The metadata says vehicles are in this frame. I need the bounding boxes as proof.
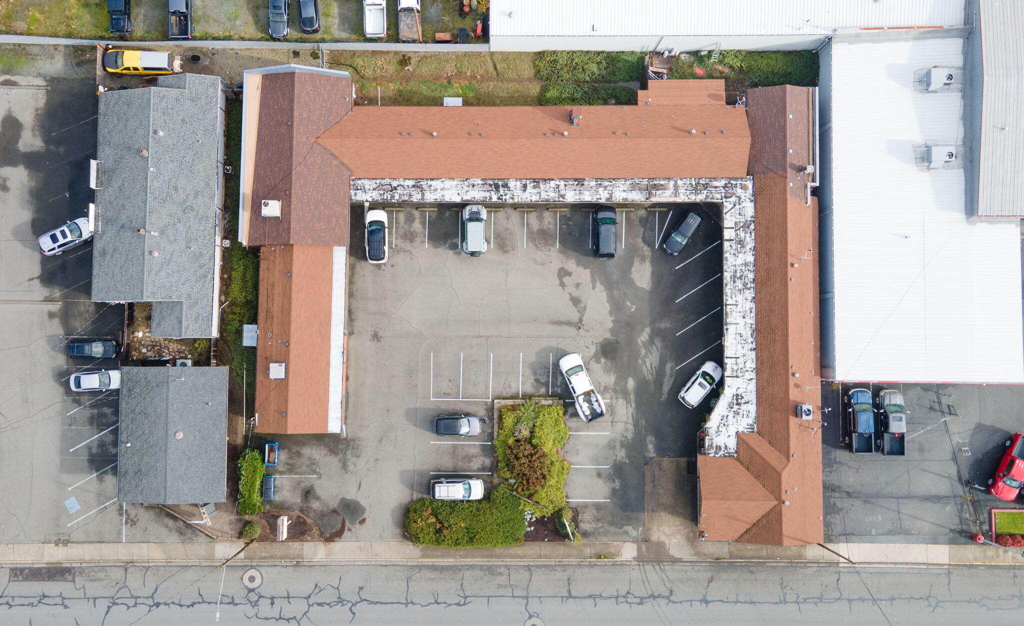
[106,46,177,77]
[679,359,722,412]
[362,210,390,265]
[429,476,484,503]
[69,367,120,394]
[462,206,488,258]
[592,205,619,262]
[875,388,909,458]
[69,337,122,363]
[985,428,1024,500]
[298,0,325,37]
[843,387,876,456]
[398,0,422,42]
[104,0,136,35]
[431,413,483,440]
[661,205,706,260]
[264,0,292,41]
[166,0,195,40]
[35,218,94,257]
[559,352,607,427]
[363,0,388,40]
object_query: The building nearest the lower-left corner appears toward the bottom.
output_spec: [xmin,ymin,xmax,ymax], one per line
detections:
[116,366,230,504]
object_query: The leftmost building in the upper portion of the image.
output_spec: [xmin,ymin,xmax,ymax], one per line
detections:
[88,72,228,339]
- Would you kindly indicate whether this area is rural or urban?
urban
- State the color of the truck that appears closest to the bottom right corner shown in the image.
red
